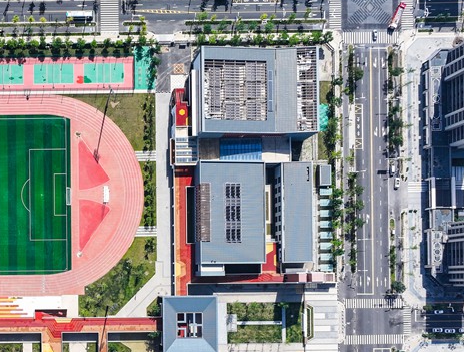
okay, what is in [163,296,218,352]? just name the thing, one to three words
building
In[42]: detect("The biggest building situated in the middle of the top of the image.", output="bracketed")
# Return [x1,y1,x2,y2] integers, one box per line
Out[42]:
[185,47,318,142]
